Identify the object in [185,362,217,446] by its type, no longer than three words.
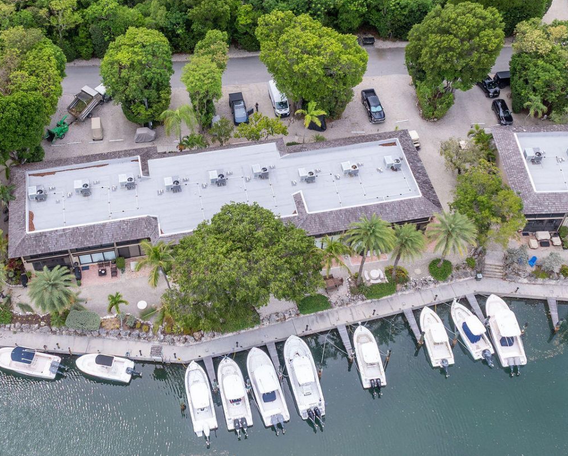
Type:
boat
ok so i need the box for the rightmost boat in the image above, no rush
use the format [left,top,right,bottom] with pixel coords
[487,296,530,379]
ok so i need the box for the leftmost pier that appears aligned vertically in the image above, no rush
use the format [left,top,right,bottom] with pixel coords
[203,354,219,388]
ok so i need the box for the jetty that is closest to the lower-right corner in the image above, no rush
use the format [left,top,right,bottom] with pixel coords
[546,298,562,332]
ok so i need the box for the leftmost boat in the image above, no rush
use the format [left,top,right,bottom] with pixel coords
[0,346,73,381]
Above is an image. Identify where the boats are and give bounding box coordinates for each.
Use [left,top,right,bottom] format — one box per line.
[452,302,493,369]
[487,296,530,379]
[0,346,73,381]
[219,359,253,443]
[420,308,455,377]
[354,326,386,401]
[286,335,327,432]
[185,362,217,446]
[248,349,290,439]
[76,355,144,386]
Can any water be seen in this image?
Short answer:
Yes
